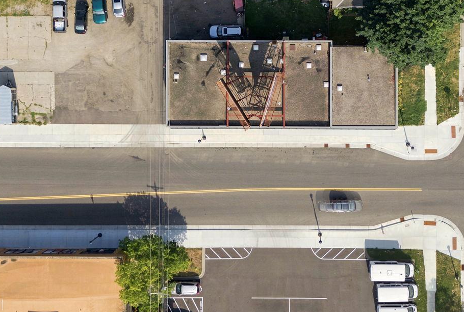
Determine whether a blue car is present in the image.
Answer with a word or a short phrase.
Yes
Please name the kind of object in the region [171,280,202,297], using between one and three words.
car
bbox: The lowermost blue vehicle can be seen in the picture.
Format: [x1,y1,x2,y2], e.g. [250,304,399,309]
[209,23,244,40]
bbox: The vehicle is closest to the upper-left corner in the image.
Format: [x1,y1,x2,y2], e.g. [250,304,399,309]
[51,0,67,32]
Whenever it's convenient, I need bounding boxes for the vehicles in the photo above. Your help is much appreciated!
[321,197,358,213]
[377,284,418,302]
[370,263,414,281]
[209,23,244,40]
[171,280,202,297]
[376,304,417,312]
[112,0,126,17]
[72,0,89,35]
[90,0,107,23]
[51,0,67,32]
